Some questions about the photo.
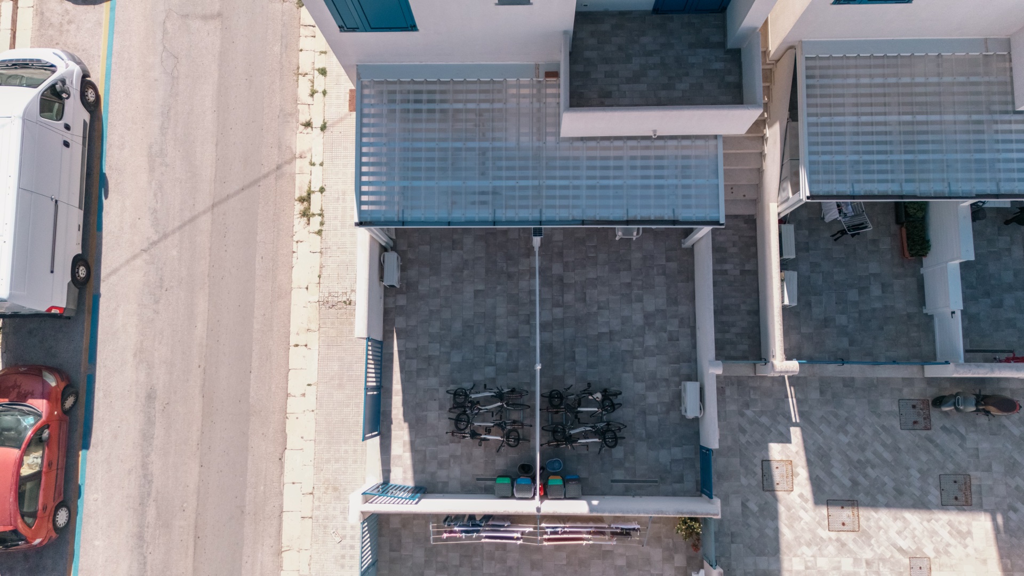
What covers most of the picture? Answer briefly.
paved ground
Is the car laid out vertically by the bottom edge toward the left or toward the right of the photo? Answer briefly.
left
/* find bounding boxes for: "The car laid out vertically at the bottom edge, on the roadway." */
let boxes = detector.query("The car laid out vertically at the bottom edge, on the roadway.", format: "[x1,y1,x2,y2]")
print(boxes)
[0,365,77,557]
